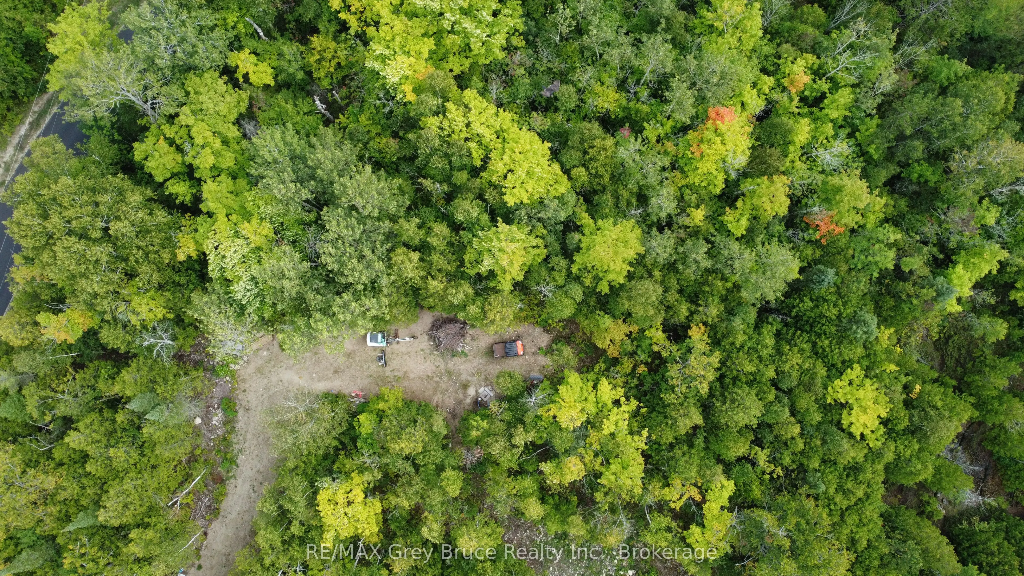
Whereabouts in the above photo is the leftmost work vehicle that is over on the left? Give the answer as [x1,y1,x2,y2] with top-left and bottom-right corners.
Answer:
[368,329,414,346]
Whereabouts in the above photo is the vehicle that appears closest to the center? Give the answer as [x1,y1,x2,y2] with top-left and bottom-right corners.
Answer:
[492,339,525,358]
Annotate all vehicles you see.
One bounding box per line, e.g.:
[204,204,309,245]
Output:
[368,329,414,346]
[492,339,525,358]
